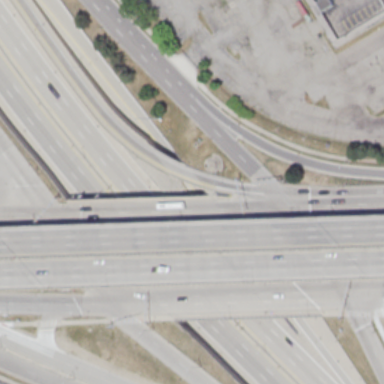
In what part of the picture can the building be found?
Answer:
top right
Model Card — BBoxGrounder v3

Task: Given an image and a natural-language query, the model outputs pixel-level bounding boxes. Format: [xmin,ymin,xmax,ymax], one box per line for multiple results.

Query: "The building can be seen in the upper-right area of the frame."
[316,0,384,38]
